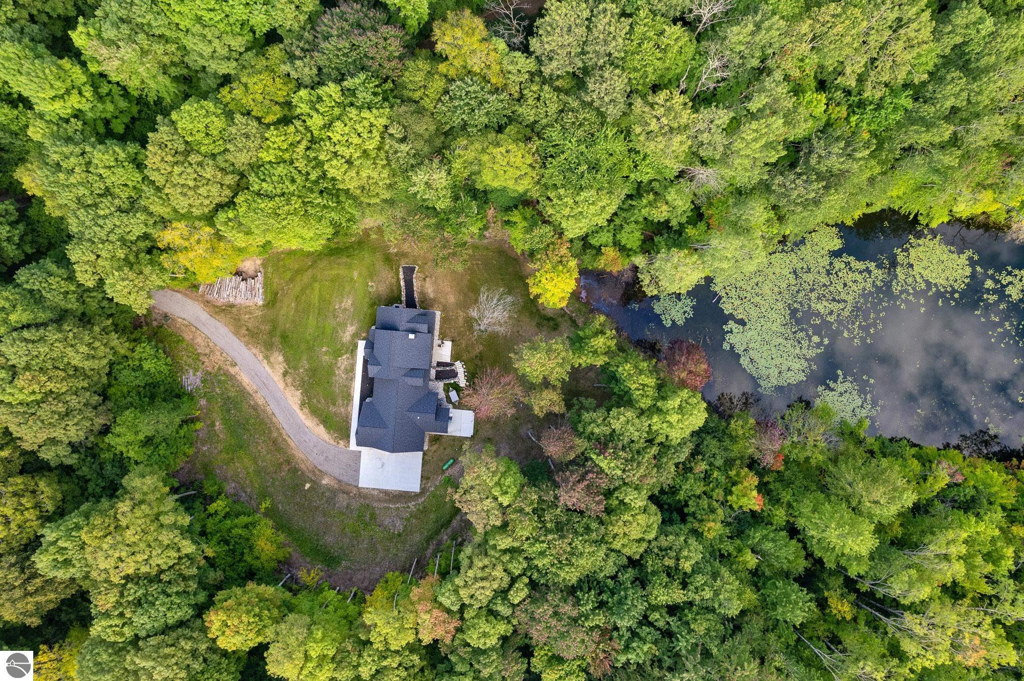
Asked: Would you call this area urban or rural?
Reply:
rural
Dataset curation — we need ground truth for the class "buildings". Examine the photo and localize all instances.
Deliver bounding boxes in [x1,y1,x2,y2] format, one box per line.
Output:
[355,307,450,453]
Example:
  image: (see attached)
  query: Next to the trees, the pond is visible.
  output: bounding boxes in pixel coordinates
[580,205,1024,457]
